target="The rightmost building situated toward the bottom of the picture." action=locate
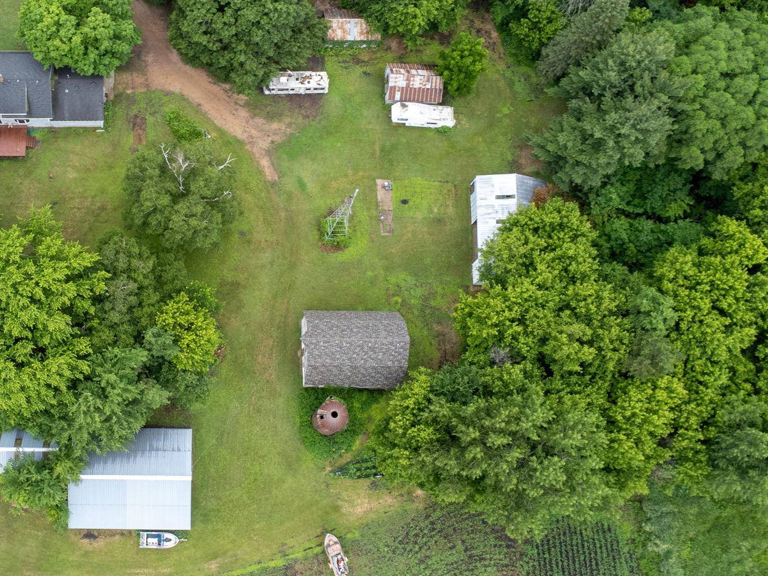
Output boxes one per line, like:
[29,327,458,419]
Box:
[300,311,408,388]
